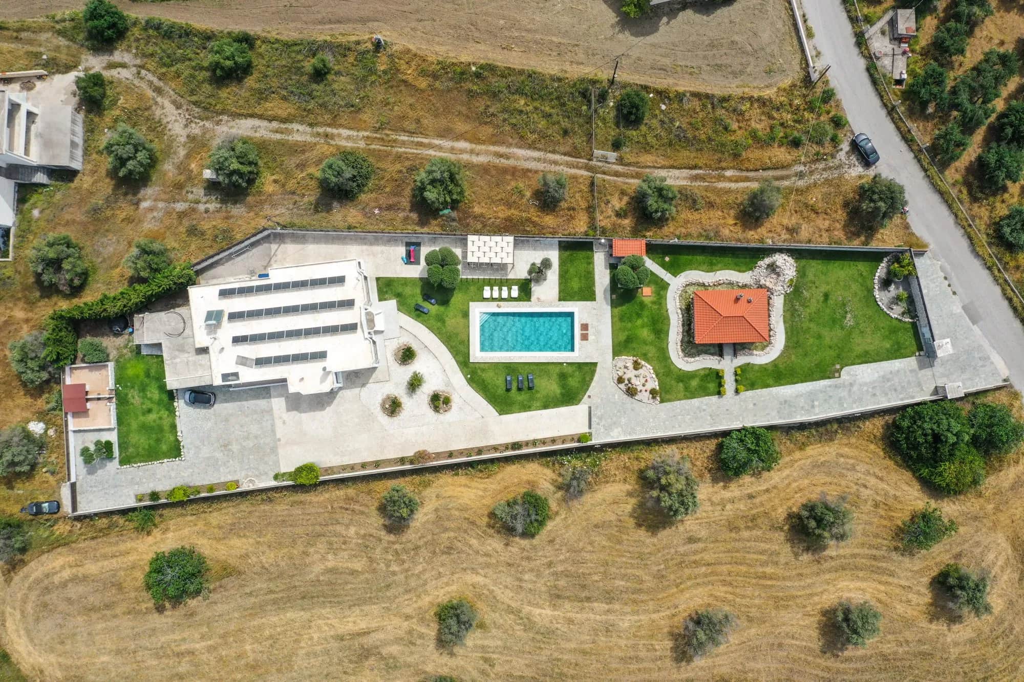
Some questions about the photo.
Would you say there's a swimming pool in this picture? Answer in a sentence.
Yes, the picture does show a swimming pool.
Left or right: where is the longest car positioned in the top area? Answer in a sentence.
It is on the right.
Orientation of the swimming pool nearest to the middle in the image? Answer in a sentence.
In this picture, the swimming pool nearest to the middle lies horizontally.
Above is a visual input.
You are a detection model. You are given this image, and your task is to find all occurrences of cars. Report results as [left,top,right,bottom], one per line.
[852,132,880,165]
[27,500,62,515]
[184,390,217,406]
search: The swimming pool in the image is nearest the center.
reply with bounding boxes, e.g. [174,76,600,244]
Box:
[476,308,579,357]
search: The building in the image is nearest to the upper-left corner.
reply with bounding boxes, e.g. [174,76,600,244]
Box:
[0,90,85,183]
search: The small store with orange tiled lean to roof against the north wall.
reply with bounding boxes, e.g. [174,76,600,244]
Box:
[611,239,647,257]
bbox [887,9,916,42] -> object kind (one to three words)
shed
